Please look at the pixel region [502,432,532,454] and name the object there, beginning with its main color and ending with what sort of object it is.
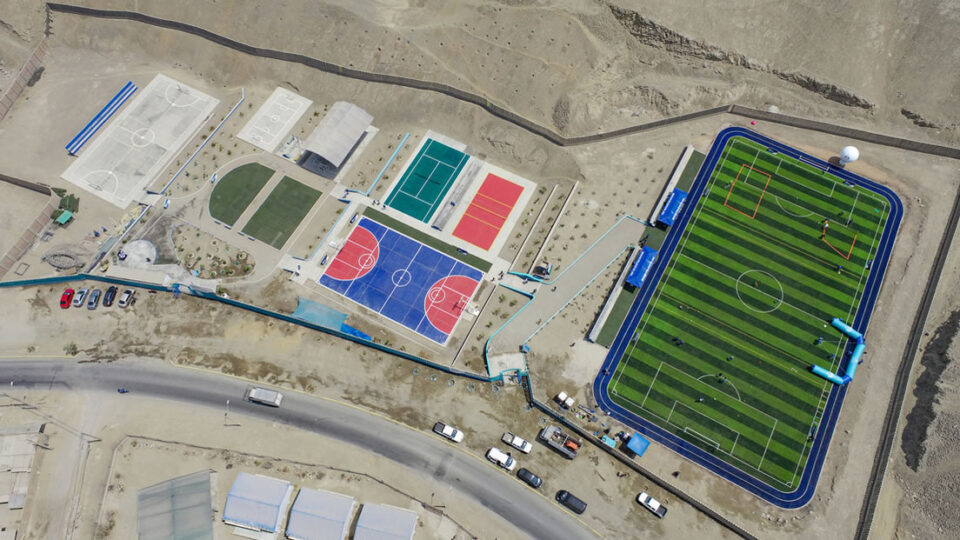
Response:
white truck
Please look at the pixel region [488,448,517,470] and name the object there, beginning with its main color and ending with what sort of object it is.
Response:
white car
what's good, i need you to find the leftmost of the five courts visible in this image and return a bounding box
[60,73,220,209]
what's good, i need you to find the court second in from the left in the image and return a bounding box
[237,87,312,153]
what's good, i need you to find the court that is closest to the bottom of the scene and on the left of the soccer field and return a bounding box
[317,216,485,345]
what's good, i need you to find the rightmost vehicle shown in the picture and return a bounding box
[638,491,670,519]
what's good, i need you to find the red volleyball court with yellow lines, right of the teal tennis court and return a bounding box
[453,173,524,251]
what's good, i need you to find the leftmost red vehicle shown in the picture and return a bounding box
[56,287,75,308]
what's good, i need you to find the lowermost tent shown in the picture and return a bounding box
[624,432,650,458]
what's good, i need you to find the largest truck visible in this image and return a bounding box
[538,428,585,465]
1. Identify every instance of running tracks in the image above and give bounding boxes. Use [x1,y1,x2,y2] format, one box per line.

[594,127,904,509]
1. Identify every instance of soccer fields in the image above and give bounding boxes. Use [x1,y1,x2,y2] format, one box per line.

[608,136,892,493]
